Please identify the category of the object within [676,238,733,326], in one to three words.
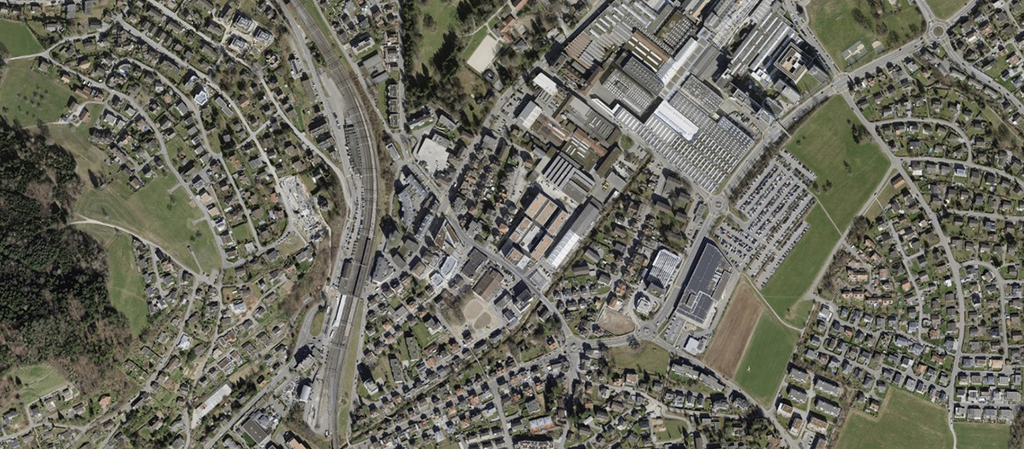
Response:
building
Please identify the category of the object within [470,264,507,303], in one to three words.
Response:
building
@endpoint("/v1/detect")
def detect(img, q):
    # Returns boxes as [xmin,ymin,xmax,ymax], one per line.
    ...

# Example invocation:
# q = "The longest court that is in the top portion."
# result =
[467,35,499,73]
